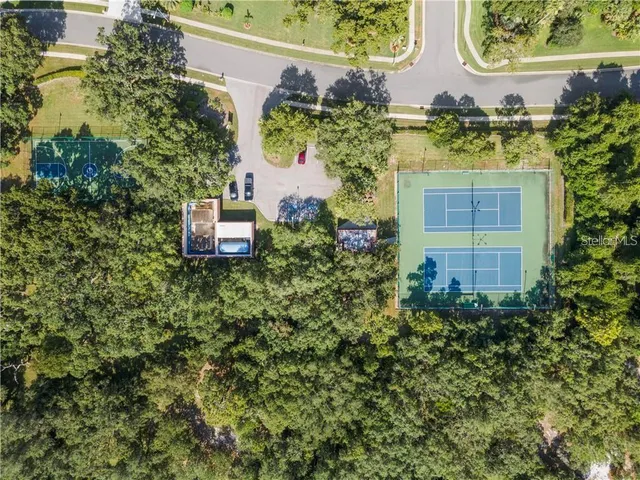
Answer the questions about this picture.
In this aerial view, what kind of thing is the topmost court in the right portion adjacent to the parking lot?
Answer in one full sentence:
It turns out the topmost court in the right portion adjacent to the parking lot is a tennis court.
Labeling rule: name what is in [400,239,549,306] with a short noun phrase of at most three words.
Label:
tennis court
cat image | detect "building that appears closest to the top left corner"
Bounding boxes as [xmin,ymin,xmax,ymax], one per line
[181,201,252,256]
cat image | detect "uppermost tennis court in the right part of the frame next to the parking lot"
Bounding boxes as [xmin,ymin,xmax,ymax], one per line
[400,174,549,239]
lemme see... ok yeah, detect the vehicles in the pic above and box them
[229,182,238,201]
[298,148,306,165]
[244,174,253,199]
